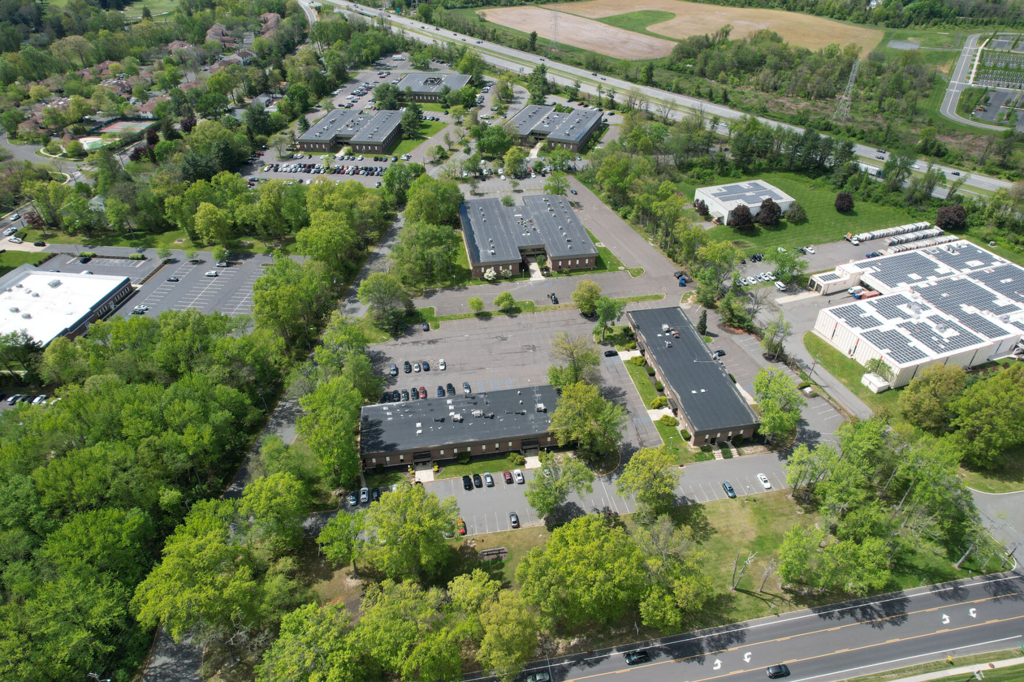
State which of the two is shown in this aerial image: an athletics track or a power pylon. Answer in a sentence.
Of the two, only a power pylon appears.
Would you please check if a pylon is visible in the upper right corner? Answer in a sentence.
Yes, I can see a pylon in the upper right corner.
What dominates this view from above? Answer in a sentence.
The scene is dominated by trees.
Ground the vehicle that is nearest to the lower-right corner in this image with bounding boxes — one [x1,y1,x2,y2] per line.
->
[764,663,792,679]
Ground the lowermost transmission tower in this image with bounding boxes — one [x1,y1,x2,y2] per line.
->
[829,53,865,120]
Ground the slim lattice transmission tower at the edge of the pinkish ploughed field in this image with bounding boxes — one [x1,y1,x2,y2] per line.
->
[545,1,564,51]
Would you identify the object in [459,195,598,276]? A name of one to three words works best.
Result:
building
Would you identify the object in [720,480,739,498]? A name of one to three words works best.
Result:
car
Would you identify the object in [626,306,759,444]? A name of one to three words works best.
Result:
building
